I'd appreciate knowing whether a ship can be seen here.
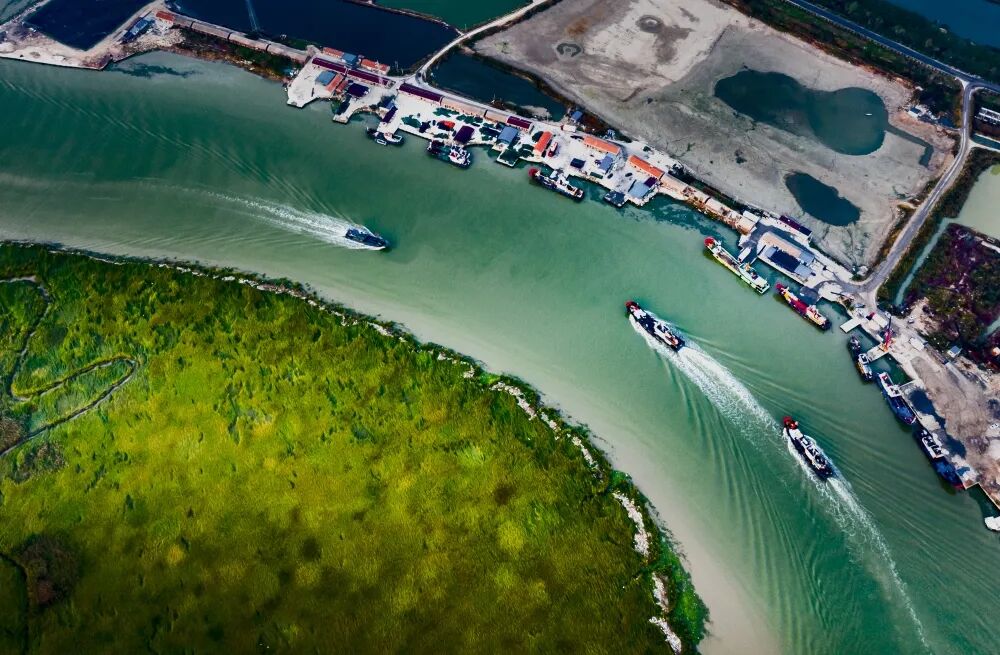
Yes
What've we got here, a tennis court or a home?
home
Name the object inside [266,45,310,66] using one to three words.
house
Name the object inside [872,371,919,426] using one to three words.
vessel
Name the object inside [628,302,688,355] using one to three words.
boat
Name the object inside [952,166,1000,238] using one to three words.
pond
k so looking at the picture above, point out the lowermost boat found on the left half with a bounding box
[343,227,390,248]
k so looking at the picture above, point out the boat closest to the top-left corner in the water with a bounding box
[365,124,406,147]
